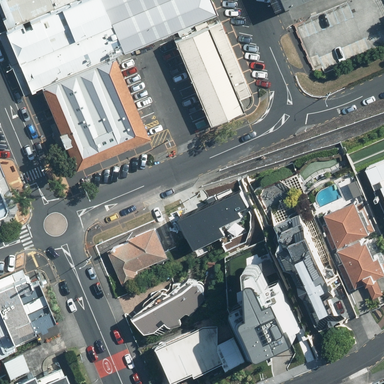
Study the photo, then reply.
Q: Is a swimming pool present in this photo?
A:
Yes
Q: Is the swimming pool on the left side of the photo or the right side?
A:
right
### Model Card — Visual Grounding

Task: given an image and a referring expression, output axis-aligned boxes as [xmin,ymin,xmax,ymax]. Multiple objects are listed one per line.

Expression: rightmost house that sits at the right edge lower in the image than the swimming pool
[324,203,384,300]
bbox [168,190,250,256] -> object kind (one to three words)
house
